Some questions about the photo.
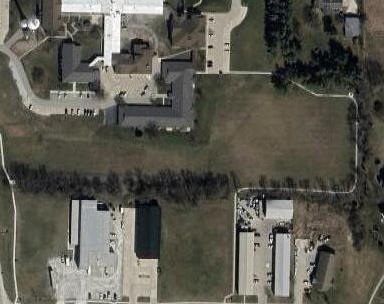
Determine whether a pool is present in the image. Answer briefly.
No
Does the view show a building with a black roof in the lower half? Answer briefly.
Yes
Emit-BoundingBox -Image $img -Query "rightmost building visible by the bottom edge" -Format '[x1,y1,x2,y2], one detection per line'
[310,250,337,292]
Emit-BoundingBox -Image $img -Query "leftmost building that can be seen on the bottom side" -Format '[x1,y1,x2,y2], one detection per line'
[72,199,109,268]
